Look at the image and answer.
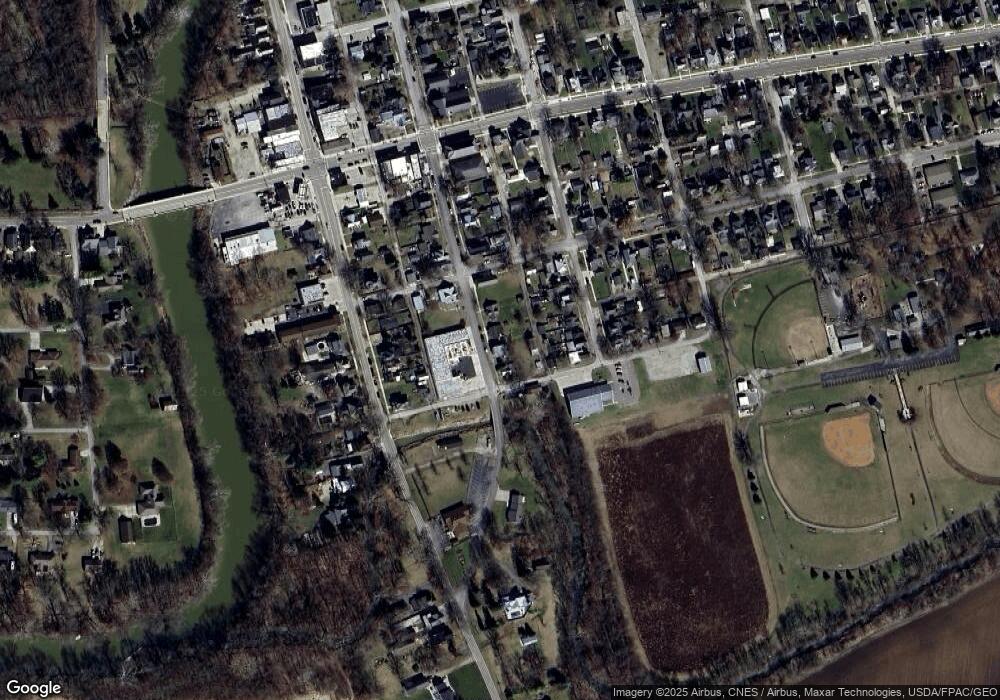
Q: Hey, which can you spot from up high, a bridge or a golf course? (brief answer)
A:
bridge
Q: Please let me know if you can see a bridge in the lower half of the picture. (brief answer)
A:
No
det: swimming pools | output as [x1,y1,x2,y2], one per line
[316,340,326,350]
[141,515,160,528]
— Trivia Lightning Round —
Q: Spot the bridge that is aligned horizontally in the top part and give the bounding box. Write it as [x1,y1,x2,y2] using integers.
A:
[117,189,207,224]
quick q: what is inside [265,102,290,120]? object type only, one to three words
building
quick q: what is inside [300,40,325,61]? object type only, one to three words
building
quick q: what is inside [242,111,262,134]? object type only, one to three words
house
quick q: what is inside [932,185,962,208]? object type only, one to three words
house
